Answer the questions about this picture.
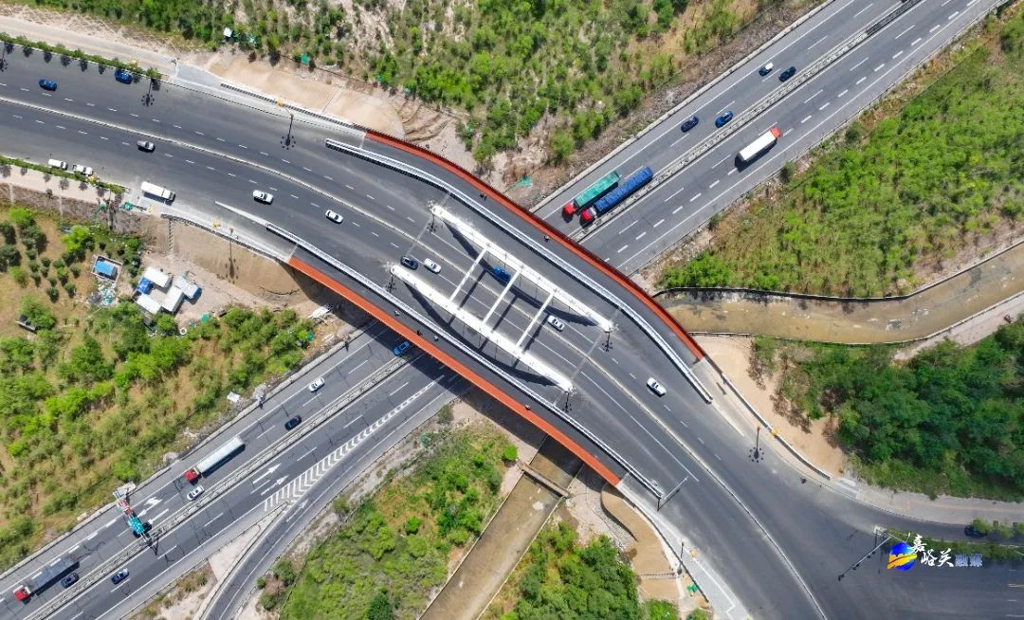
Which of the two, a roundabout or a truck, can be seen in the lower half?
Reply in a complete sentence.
The feature located in the lower half is a truck.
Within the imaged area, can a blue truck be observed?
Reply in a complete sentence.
Yes, I can see a blue truck in this picture.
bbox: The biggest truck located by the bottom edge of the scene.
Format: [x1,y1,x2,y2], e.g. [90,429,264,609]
[17,553,82,599]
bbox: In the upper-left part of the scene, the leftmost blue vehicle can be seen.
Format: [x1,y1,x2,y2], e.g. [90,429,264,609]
[35,77,56,89]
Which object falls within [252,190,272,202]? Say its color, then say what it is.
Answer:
white vehicle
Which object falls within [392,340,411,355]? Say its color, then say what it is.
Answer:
blue car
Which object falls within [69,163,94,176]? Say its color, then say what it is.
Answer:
white vehicle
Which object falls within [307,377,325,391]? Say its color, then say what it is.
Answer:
white car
